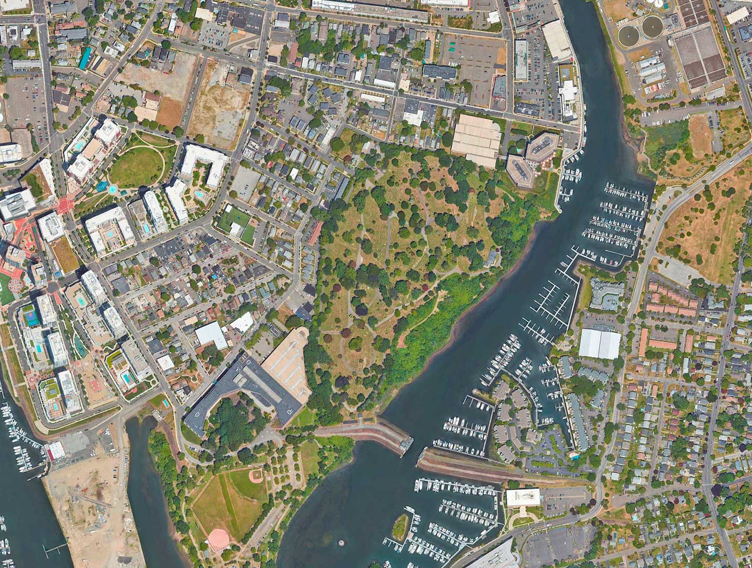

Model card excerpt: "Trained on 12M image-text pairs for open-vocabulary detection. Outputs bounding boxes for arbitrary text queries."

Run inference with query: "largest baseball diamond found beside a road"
[191,466,267,552]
